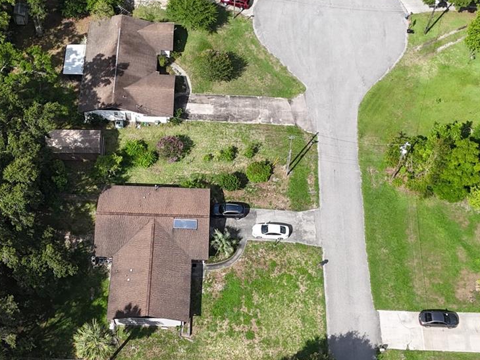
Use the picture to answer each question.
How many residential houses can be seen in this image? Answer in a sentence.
Altogether the scene contains 2 residential houses.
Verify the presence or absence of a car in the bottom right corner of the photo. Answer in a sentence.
Yes, a car can be seen in the bottom right corner of the photo.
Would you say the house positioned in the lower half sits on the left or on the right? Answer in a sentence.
The house positioned in the lower half sits on the left side.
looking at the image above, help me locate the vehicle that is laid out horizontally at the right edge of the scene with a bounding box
[418,308,460,326]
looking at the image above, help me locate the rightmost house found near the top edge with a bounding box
[62,13,175,124]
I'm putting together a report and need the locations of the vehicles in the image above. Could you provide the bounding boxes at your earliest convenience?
[418,308,460,326]
[224,0,251,8]
[212,201,249,218]
[252,221,290,239]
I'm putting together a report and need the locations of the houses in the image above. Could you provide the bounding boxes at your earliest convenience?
[62,13,175,124]
[94,183,210,327]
